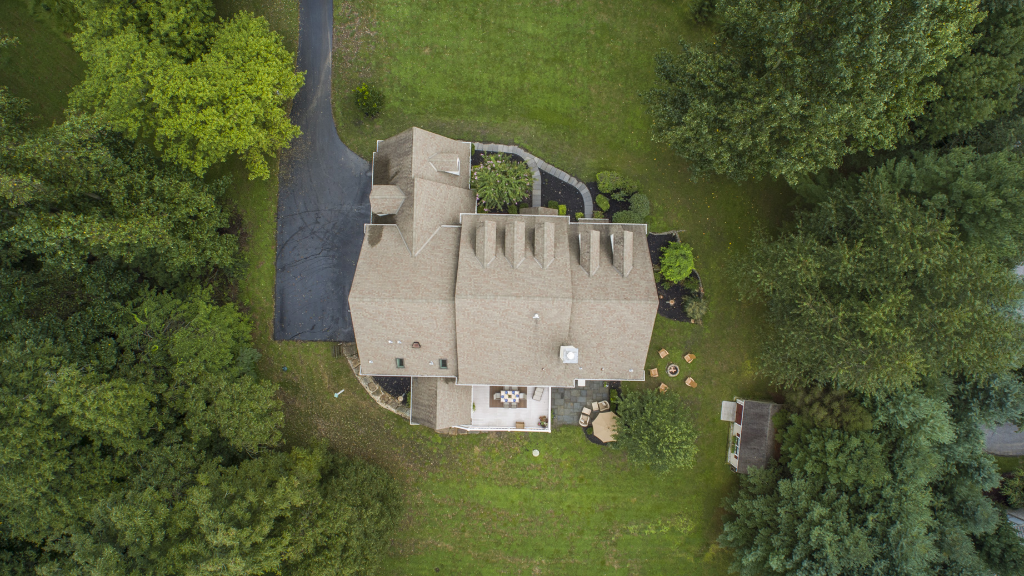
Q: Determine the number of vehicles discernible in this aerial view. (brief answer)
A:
0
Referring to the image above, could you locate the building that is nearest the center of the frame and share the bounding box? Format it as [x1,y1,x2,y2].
[347,127,659,430]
